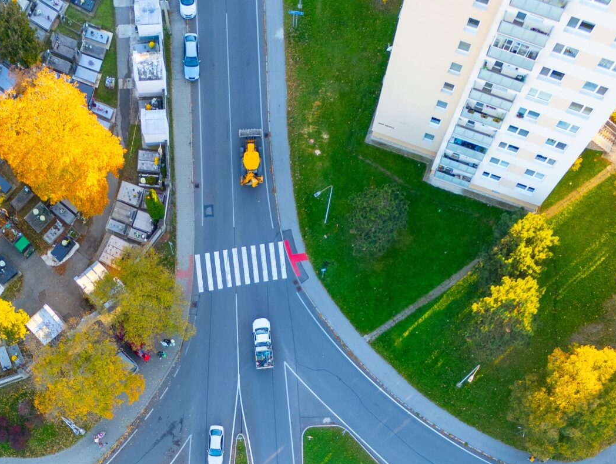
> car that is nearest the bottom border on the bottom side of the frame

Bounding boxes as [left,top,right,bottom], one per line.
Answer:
[205,424,226,464]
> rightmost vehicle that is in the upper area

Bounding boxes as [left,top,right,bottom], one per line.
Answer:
[239,130,262,188]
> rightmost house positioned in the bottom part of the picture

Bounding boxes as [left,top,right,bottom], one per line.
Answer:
[74,261,108,300]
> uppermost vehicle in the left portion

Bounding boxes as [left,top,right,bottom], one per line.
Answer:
[177,0,198,24]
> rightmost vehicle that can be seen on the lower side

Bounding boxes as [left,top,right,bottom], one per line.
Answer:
[251,319,272,369]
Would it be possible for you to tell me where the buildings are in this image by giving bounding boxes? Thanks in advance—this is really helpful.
[141,109,169,145]
[134,0,162,42]
[74,261,108,300]
[26,306,64,349]
[361,0,616,220]
[134,52,165,96]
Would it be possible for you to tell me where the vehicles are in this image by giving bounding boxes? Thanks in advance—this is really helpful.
[177,0,198,24]
[205,424,226,464]
[251,319,272,369]
[181,35,202,82]
[239,130,262,188]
